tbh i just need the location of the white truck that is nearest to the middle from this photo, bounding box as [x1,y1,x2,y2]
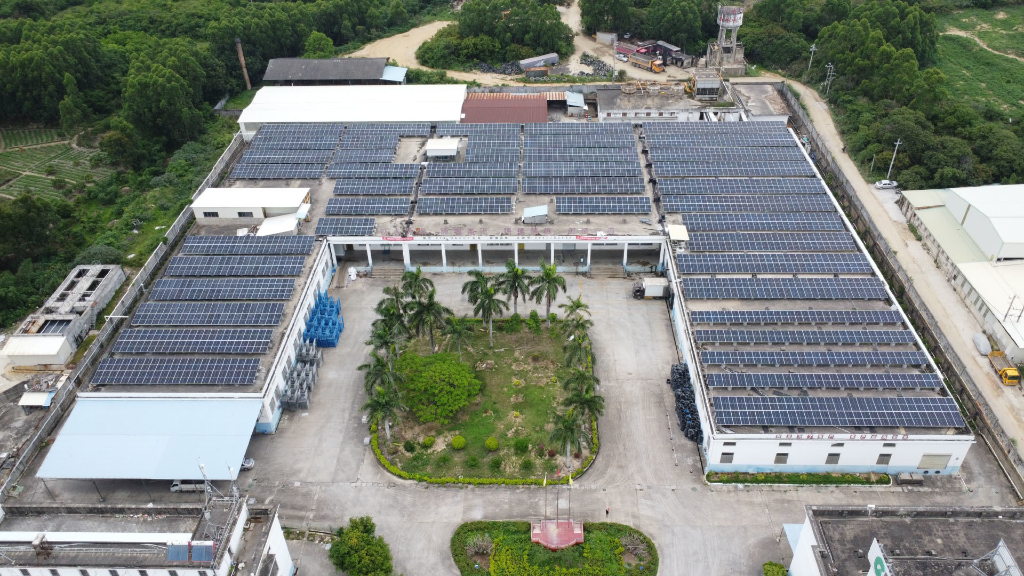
[633,276,667,298]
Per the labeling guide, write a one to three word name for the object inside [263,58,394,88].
shed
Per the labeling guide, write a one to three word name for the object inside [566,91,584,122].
shed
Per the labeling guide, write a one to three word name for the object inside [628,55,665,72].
vehicle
